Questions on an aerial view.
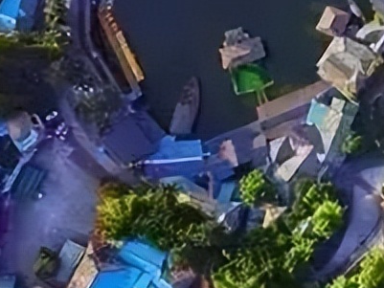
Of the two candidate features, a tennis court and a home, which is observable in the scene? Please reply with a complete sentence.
Visible in the photo is a home.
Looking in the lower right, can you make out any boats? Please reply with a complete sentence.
No, in the lower right there is no boat.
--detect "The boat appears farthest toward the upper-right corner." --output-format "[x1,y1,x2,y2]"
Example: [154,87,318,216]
[348,0,365,16]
